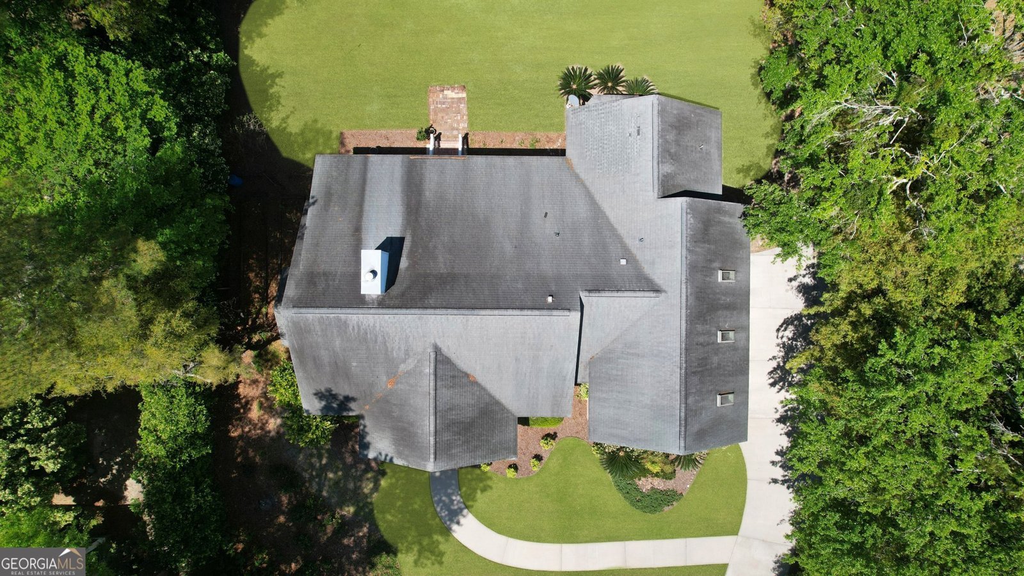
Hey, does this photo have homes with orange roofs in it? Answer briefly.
No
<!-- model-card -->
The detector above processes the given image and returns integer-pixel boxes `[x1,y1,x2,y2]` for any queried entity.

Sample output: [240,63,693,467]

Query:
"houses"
[274,95,749,470]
